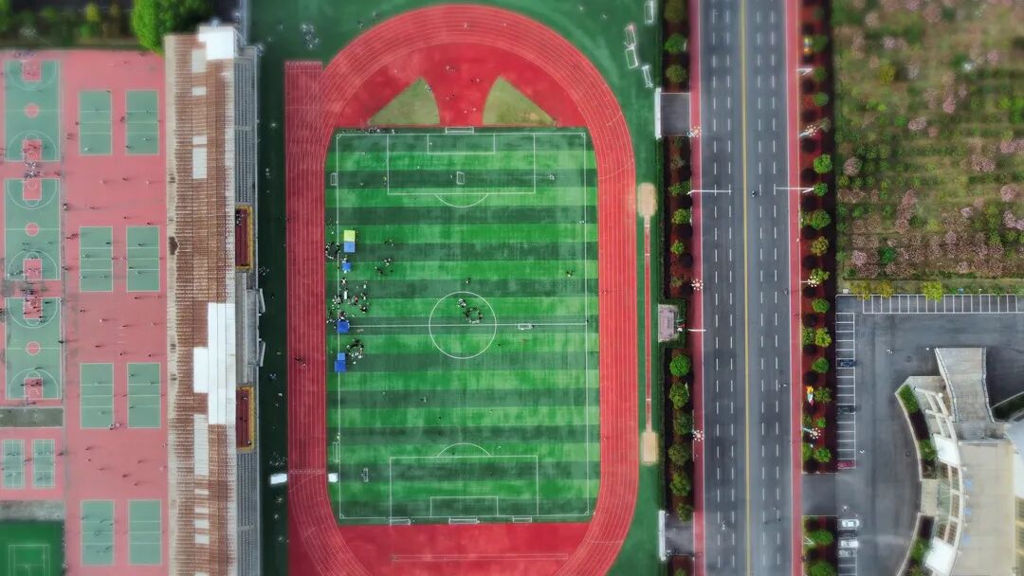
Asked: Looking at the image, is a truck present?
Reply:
No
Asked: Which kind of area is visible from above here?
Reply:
sports ground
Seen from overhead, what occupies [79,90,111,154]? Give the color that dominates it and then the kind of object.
green sports court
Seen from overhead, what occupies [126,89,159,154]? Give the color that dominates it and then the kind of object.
green sports court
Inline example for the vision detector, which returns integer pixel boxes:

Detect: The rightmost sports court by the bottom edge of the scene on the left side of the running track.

[128,500,161,565]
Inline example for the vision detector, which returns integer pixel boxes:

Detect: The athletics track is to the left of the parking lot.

[285,5,639,576]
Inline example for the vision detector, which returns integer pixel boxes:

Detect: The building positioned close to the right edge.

[912,347,1024,576]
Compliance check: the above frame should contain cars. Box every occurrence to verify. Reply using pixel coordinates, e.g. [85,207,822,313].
[838,461,854,469]
[838,360,855,368]
[841,540,859,549]
[839,550,856,558]
[841,520,859,528]
[838,406,855,413]
[839,530,855,538]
